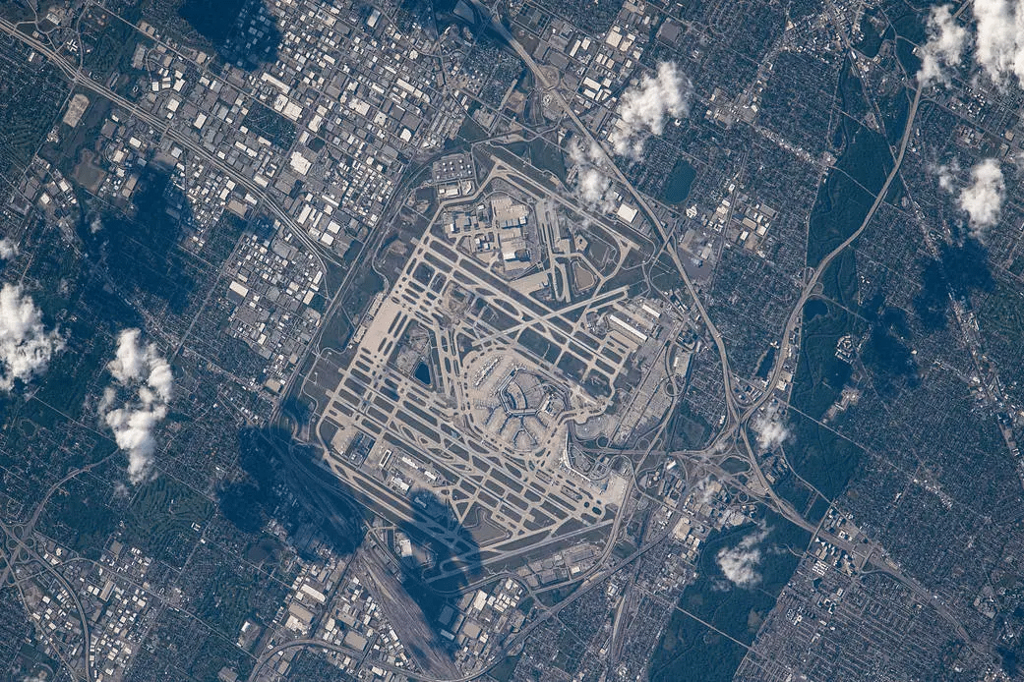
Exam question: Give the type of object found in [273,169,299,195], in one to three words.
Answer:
building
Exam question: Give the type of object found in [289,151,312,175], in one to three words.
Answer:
building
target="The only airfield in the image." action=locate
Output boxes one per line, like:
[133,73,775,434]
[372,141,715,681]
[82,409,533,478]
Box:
[291,147,679,596]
